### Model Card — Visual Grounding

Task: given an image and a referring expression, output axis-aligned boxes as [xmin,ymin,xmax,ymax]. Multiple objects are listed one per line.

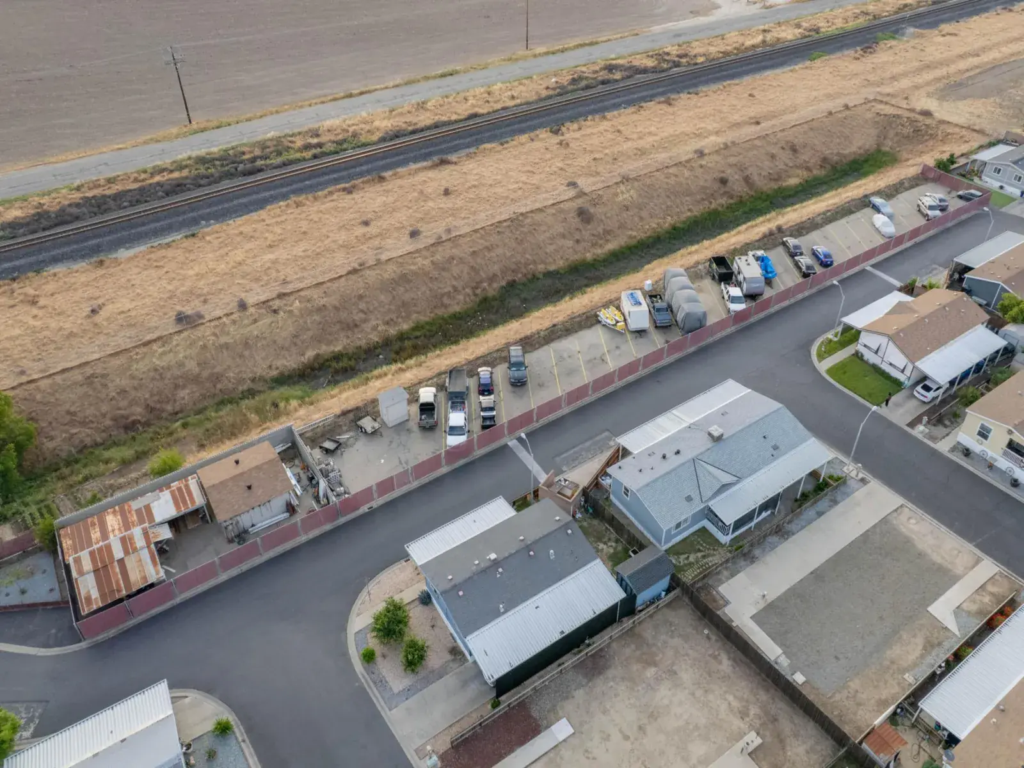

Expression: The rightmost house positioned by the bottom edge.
[908,601,1024,768]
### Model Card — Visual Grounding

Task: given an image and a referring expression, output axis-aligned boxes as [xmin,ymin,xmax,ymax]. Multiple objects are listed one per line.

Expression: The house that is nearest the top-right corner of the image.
[967,143,1024,192]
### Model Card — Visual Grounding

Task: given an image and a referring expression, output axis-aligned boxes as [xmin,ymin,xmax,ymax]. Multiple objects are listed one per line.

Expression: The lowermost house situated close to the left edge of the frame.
[0,674,193,768]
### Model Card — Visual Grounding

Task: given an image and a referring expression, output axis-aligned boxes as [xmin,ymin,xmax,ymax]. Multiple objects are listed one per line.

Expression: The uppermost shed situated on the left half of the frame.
[376,388,410,424]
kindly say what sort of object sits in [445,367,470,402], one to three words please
trailer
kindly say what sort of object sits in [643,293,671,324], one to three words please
truck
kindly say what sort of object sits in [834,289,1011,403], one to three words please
house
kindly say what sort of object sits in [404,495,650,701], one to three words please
house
